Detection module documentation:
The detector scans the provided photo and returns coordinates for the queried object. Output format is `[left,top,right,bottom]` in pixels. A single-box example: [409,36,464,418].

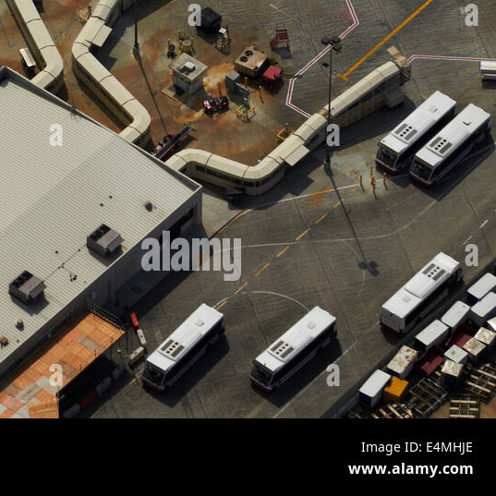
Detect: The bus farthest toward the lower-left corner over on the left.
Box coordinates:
[140,301,227,394]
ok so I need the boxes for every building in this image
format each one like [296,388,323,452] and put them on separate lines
[0,67,205,371]
[168,52,211,101]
